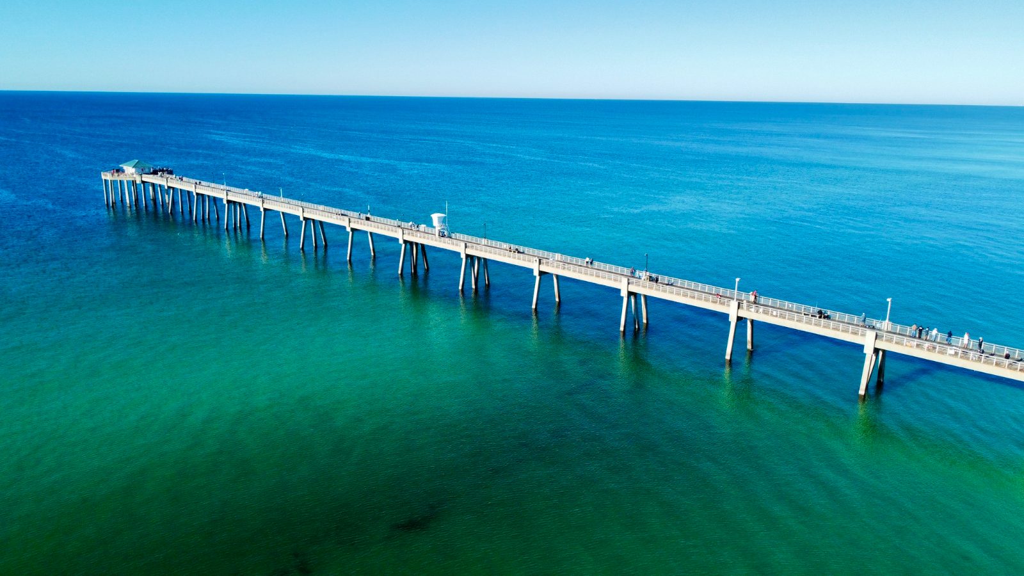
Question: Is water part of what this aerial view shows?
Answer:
Yes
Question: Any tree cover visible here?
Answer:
No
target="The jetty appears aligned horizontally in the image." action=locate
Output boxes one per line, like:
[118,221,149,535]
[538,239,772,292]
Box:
[100,168,1024,394]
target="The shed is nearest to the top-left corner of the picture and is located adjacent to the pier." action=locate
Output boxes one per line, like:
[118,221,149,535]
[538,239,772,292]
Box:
[119,159,155,175]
